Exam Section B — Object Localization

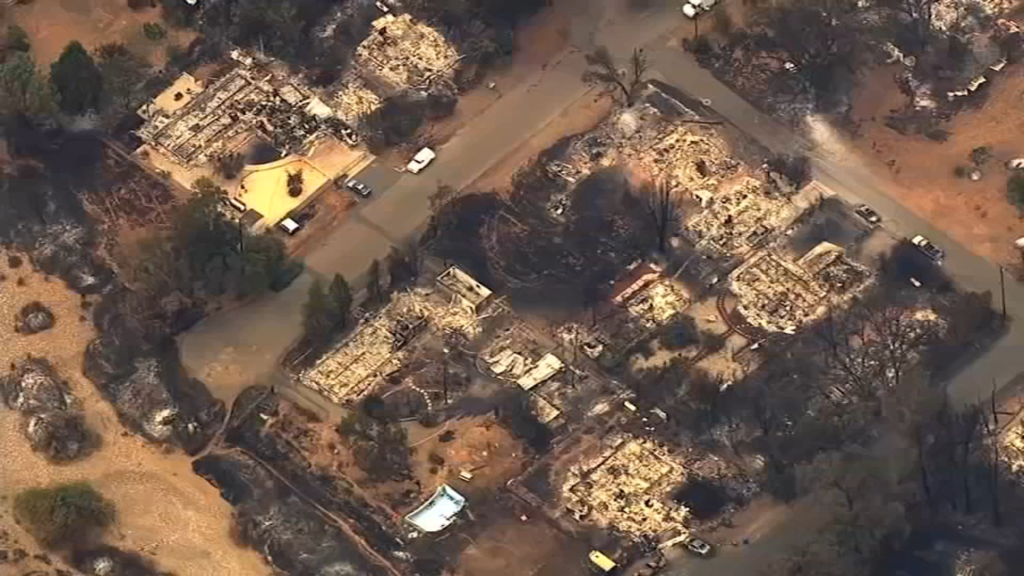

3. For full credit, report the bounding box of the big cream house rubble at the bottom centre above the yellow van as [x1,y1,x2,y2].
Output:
[545,423,709,567]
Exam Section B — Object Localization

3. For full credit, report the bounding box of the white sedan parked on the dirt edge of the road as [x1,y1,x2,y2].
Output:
[406,148,435,174]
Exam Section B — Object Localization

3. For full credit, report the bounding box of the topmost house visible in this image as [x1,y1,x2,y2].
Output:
[344,5,471,96]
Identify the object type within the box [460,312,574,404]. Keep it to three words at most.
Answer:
shed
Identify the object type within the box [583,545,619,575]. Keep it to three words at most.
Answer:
van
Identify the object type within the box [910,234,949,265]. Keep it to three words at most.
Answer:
truck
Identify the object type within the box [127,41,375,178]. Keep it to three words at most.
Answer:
house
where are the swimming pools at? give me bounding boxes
[401,481,468,534]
